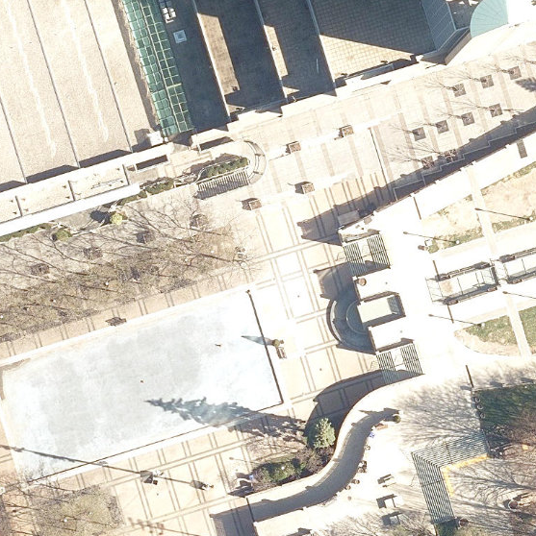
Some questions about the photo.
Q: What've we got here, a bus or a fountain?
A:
fountain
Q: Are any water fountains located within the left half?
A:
No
